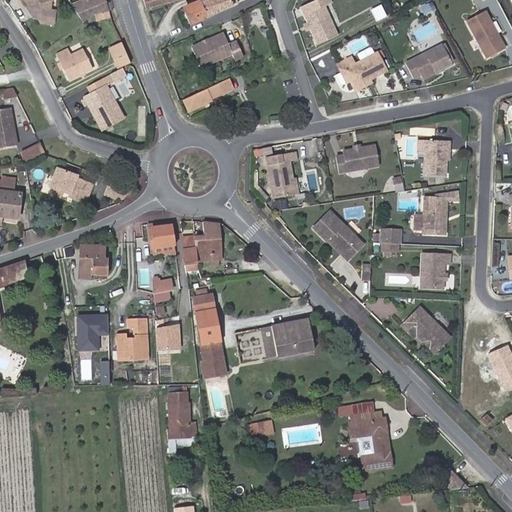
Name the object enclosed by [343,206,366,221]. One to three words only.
swimming pool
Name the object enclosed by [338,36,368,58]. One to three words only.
swimming pool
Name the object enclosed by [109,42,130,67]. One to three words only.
building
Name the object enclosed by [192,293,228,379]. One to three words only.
house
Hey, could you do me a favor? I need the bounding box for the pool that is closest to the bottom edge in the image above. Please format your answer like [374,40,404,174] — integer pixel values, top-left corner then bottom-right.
[282,423,322,449]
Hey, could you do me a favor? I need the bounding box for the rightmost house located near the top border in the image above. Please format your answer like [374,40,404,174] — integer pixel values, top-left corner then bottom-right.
[466,10,506,58]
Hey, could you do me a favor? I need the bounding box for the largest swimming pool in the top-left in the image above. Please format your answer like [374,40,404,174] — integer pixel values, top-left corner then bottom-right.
[112,78,131,101]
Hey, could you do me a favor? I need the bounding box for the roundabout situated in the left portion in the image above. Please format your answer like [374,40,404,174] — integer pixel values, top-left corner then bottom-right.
[149,128,238,216]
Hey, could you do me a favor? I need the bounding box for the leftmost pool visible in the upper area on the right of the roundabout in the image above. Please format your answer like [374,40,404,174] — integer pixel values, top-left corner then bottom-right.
[301,169,320,195]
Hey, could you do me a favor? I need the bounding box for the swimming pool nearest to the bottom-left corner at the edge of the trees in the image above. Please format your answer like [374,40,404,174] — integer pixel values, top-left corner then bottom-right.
[0,345,26,384]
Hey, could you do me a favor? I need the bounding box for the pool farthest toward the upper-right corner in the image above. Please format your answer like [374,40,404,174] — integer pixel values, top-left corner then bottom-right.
[408,2,444,50]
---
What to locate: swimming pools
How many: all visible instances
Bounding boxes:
[408,2,444,50]
[32,168,44,180]
[397,191,420,212]
[0,345,26,384]
[343,206,366,221]
[282,423,322,449]
[398,135,418,160]
[112,78,131,101]
[301,169,320,195]
[205,376,234,416]
[385,272,412,288]
[500,281,512,293]
[140,268,149,286]
[503,102,512,124]
[338,36,368,58]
